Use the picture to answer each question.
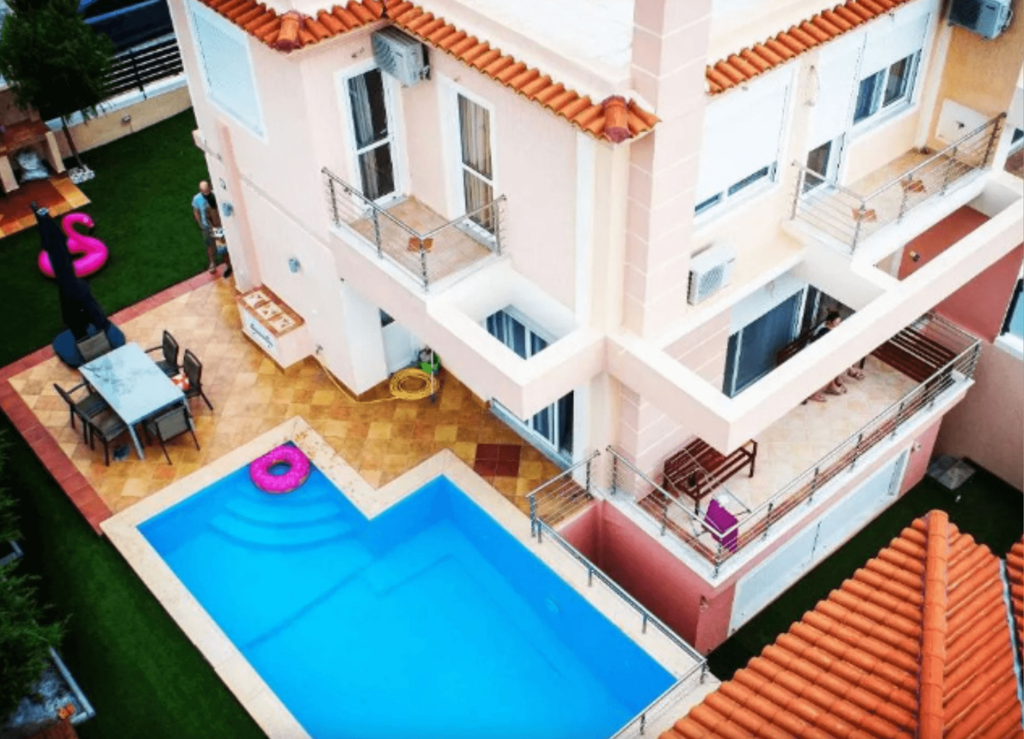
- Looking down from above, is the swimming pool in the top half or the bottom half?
bottom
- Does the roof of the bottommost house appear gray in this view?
No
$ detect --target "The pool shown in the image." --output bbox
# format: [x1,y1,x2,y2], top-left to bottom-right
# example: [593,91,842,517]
[100,415,723,739]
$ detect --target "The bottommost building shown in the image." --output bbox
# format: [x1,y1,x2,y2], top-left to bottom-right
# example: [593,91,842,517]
[650,496,1024,739]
